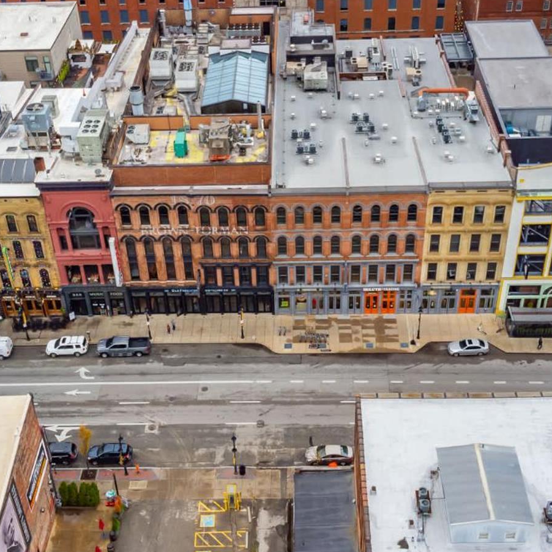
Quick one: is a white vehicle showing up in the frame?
Yes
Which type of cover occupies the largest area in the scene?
buildings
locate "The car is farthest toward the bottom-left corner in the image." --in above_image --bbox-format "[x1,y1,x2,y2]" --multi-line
[48,440,80,465]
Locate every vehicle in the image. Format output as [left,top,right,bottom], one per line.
[0,335,15,359]
[87,442,135,465]
[48,440,80,465]
[446,336,489,353]
[304,443,353,465]
[95,331,152,356]
[45,334,89,354]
